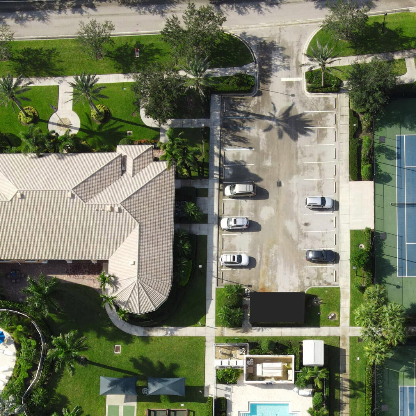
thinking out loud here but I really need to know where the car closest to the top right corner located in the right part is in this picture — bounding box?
[305,197,334,210]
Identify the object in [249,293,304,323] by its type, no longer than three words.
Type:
shed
